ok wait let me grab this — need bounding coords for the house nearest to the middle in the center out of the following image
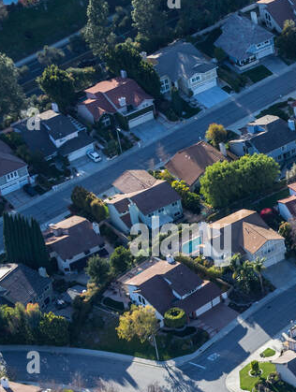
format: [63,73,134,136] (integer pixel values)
[99,179,188,238]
